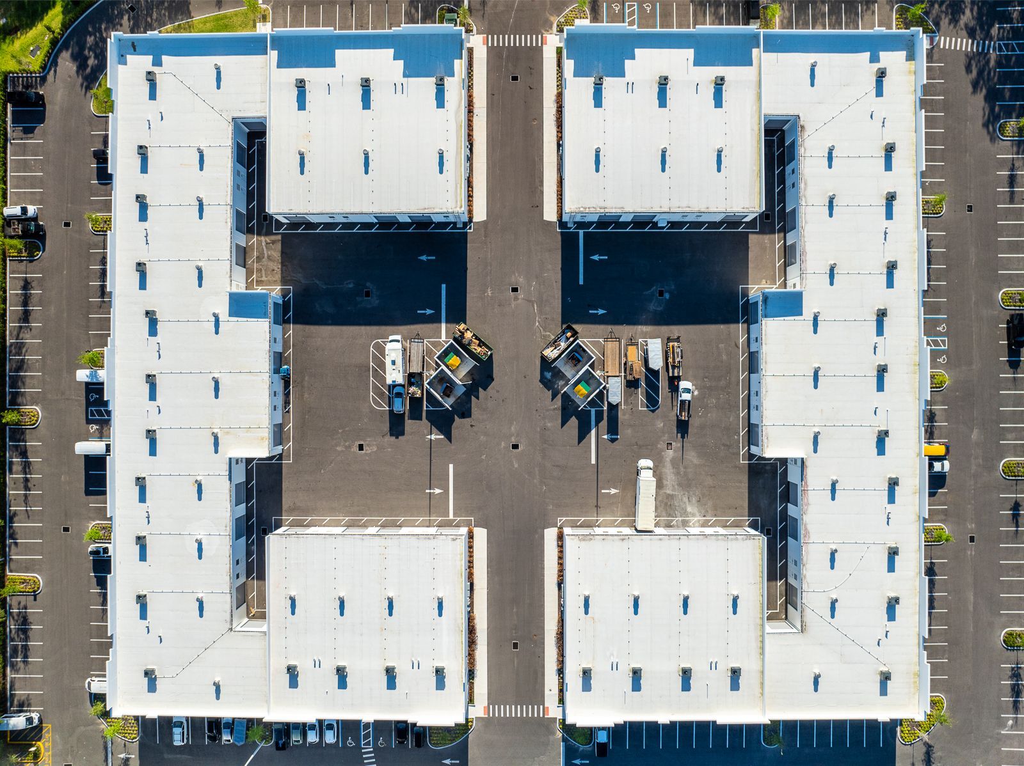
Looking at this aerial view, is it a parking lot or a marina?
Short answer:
parking lot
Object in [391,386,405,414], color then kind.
blue car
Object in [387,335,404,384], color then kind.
white camper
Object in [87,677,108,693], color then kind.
white car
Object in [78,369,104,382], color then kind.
white vehicle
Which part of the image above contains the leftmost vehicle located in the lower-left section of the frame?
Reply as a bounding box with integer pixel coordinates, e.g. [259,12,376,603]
[0,711,46,732]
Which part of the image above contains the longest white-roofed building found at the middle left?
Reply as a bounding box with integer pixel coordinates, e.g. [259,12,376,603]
[104,31,285,718]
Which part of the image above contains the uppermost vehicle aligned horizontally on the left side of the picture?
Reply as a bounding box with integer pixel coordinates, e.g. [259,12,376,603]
[2,88,46,106]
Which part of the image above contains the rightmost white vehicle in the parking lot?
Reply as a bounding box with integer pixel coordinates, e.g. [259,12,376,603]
[926,459,949,473]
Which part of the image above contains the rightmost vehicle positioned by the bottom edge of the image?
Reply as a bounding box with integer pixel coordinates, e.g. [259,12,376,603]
[595,726,610,758]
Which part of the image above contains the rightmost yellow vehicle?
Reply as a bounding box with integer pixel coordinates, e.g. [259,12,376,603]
[923,442,946,457]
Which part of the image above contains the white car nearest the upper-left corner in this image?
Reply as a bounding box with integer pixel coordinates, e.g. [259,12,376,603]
[4,204,39,219]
